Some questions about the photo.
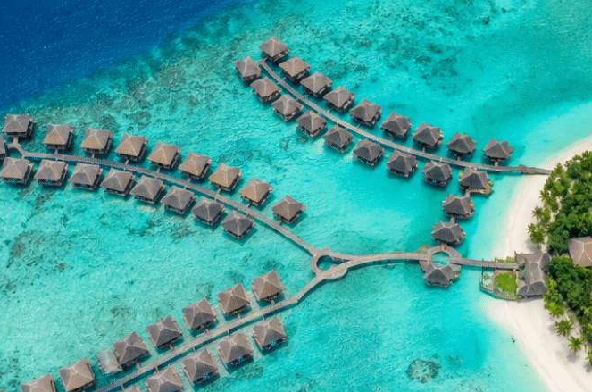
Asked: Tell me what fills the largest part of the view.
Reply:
water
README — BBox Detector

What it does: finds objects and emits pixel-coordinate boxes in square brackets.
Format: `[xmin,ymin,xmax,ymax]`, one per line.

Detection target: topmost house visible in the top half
[260,40,291,67]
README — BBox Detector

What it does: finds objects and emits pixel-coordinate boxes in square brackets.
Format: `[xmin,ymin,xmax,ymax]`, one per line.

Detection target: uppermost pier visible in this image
[257,60,552,177]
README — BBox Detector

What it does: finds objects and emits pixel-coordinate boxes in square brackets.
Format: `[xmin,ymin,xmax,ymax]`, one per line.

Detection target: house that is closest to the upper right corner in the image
[485,141,513,166]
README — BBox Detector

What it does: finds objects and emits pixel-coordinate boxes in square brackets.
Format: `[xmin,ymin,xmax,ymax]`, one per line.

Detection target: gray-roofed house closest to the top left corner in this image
[5,117,38,142]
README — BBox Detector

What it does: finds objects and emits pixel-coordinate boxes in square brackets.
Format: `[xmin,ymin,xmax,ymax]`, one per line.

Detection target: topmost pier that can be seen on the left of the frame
[8,139,319,256]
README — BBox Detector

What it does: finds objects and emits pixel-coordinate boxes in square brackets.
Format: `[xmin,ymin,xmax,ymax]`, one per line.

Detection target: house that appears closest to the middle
[272,195,308,230]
